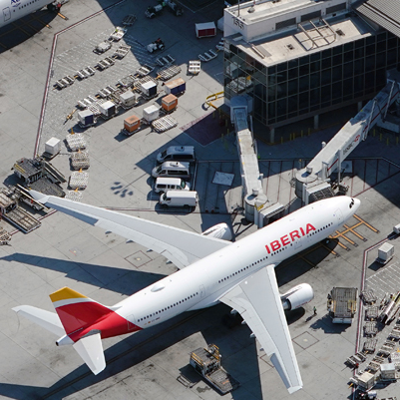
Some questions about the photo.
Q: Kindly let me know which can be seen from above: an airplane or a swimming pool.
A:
airplane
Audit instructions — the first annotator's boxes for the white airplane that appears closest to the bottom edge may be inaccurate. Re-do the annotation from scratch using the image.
[12,186,363,392]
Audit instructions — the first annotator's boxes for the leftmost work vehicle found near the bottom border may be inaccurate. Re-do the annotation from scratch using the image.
[185,335,237,394]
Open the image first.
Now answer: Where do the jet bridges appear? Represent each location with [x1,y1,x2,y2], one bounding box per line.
[226,94,287,221]
[294,69,400,199]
